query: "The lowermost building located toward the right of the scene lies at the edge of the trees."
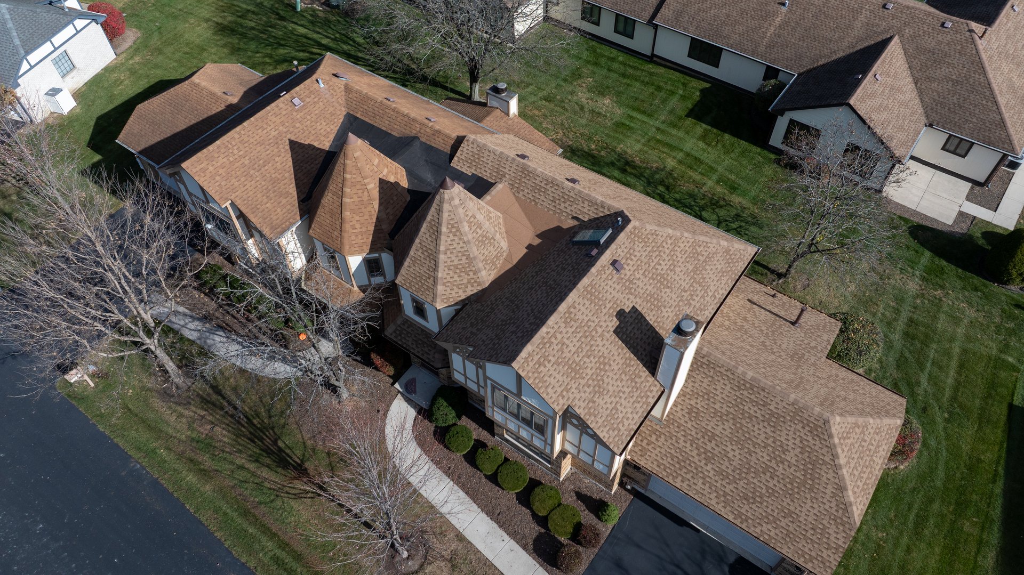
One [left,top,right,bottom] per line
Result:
[384,132,907,575]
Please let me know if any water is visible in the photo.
No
